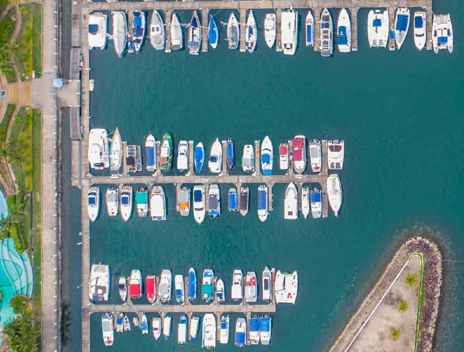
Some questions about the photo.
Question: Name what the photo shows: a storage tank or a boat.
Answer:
boat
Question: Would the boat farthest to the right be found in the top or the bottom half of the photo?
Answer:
top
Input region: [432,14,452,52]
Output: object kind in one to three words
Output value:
boat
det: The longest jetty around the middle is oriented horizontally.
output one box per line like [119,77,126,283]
[89,140,330,218]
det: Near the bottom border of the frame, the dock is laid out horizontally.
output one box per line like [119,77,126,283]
[89,268,278,345]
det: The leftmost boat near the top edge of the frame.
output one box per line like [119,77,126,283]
[88,12,108,50]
